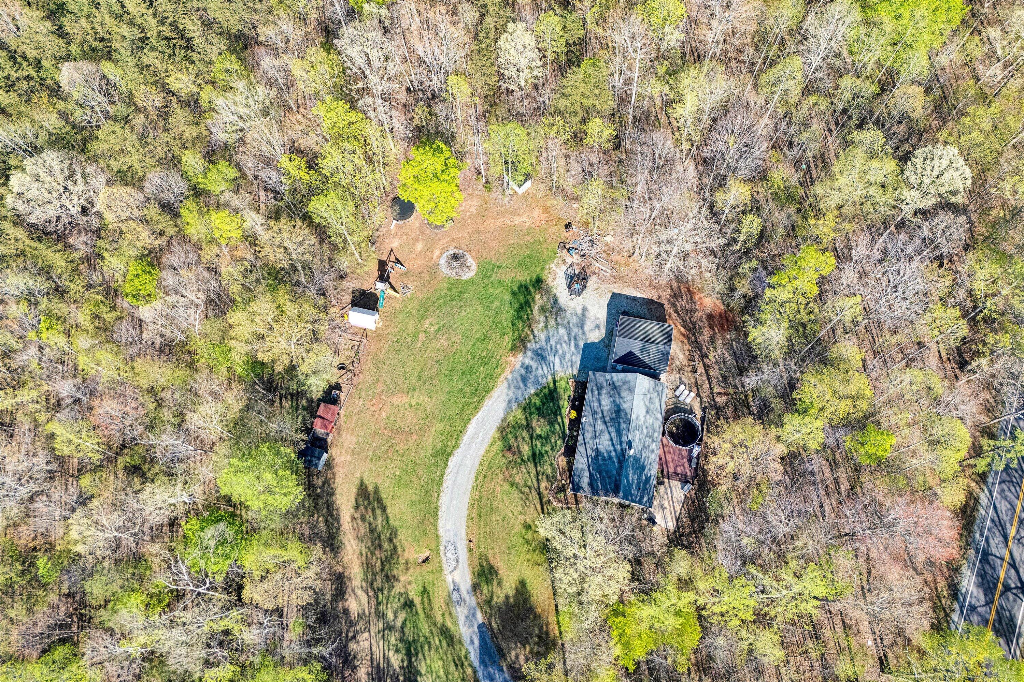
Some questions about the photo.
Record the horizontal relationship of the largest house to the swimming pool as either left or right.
to its left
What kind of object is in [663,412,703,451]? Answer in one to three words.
swimming pool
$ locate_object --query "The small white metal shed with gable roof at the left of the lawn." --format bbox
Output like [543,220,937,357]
[350,307,381,326]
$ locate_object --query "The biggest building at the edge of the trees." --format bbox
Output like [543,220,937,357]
[569,371,668,509]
